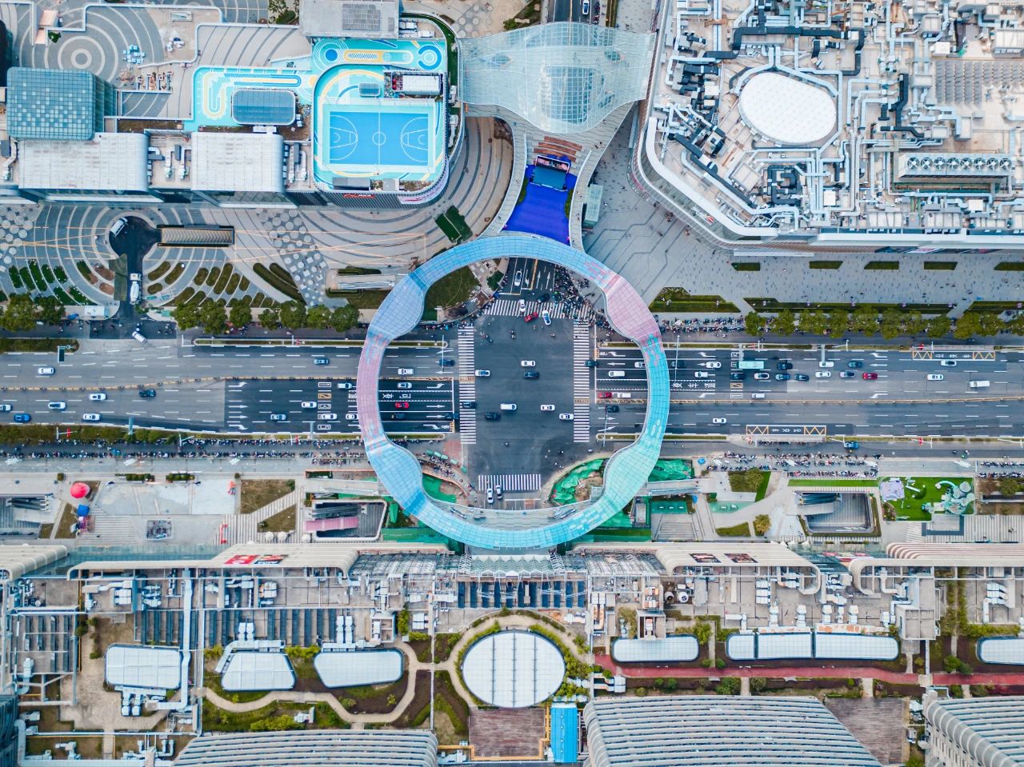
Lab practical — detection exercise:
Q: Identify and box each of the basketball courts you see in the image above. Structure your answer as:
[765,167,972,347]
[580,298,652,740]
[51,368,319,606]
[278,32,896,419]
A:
[321,98,437,175]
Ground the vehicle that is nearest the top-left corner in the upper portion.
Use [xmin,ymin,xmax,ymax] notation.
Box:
[110,219,125,235]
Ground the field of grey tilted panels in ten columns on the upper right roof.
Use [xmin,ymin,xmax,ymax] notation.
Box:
[936,61,1024,104]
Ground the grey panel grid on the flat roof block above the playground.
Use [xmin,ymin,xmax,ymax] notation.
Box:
[343,4,380,30]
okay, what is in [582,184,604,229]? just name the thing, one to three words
building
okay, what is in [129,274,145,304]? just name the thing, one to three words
vehicle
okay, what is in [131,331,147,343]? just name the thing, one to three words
vehicle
